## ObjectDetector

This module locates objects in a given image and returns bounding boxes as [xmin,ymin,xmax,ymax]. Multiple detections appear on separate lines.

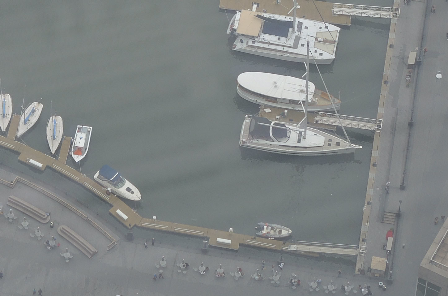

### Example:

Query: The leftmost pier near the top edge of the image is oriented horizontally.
[219,0,352,28]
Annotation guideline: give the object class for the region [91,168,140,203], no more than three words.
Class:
boat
